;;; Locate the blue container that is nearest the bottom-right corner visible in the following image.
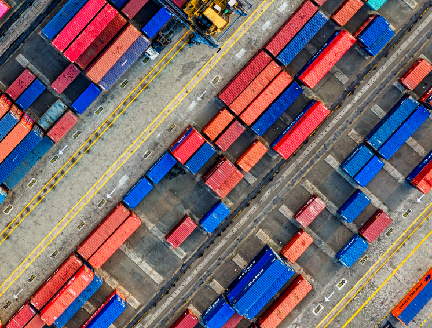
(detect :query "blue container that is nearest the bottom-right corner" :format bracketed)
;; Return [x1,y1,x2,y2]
[393,269,432,326]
